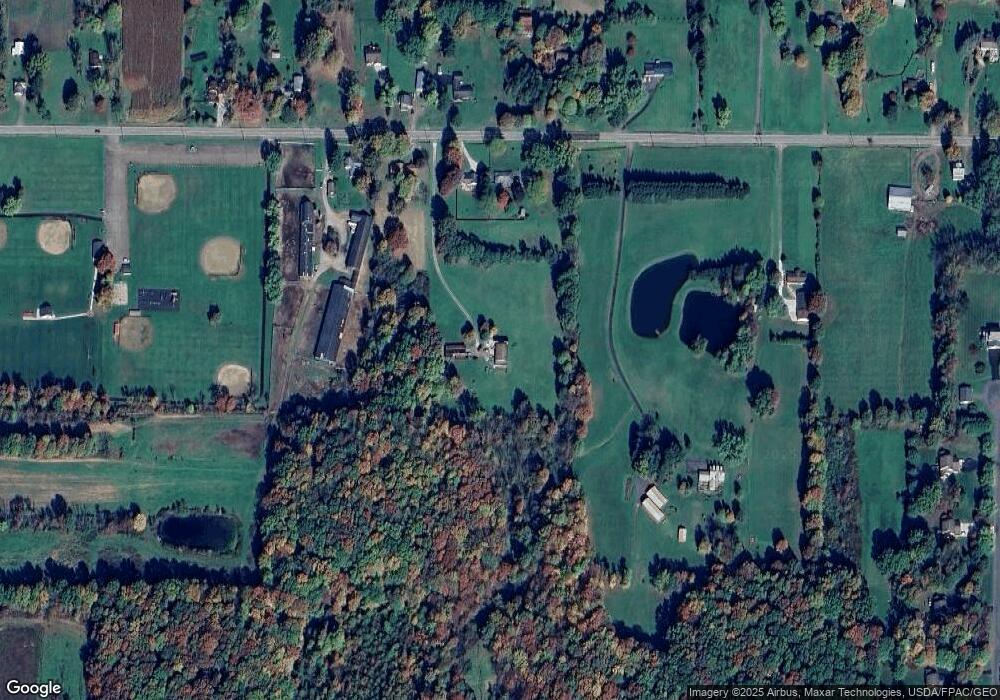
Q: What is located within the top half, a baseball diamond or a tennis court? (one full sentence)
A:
Looking within the top half, you will find a baseball diamond.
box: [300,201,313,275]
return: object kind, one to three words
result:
barn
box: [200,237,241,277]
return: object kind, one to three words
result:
baseball field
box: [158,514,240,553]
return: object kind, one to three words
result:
pond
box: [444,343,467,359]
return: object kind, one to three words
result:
building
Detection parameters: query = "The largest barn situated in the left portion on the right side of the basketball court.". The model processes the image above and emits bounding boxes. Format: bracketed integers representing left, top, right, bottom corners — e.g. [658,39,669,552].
[314,283,361,363]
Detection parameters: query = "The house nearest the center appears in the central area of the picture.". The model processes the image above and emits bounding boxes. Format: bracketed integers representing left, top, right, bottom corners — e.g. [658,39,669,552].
[495,342,509,366]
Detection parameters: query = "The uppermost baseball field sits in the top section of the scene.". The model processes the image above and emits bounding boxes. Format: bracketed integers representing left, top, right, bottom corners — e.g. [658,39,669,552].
[137,172,176,213]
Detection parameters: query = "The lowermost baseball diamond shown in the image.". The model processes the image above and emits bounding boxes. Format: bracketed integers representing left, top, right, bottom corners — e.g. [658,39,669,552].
[217,363,252,396]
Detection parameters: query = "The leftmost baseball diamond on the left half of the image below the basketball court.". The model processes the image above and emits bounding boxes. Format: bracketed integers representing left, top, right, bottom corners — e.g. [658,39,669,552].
[118,315,153,351]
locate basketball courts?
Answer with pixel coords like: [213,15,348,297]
[138,289,179,310]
